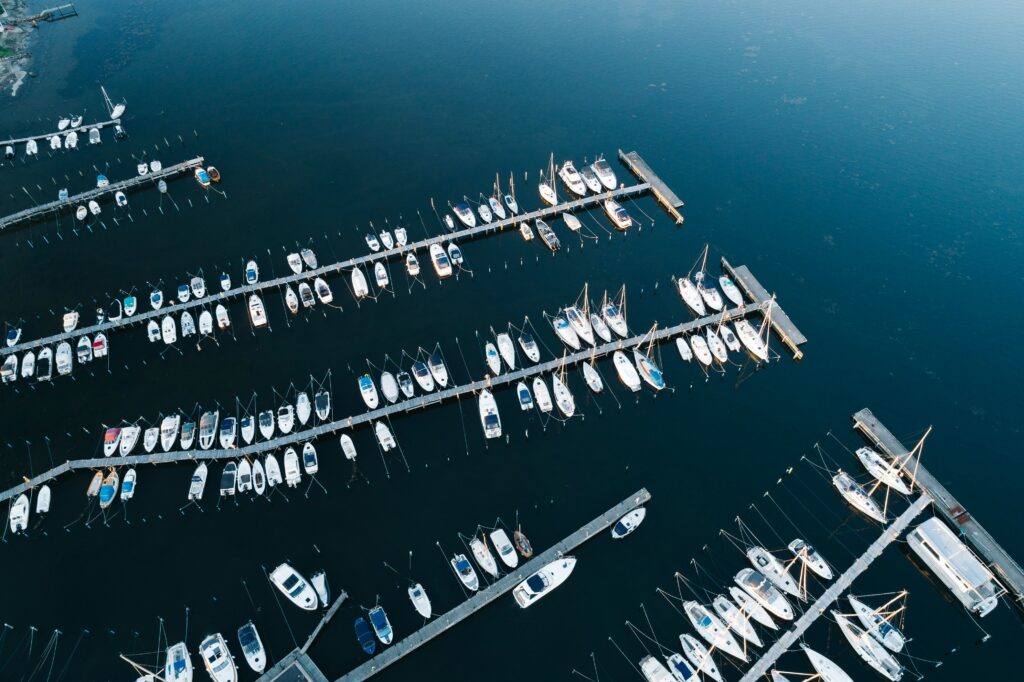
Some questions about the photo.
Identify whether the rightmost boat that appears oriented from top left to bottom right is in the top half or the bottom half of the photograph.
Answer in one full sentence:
The bottom half of the photo is where the rightmost boat that appears oriented from top left to bottom right is.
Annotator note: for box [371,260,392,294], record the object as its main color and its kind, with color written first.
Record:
white boat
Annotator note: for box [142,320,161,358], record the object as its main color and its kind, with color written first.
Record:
white boat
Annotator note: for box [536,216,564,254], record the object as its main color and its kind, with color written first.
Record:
gray boat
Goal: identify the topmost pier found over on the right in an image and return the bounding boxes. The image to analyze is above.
[625,151,684,210]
